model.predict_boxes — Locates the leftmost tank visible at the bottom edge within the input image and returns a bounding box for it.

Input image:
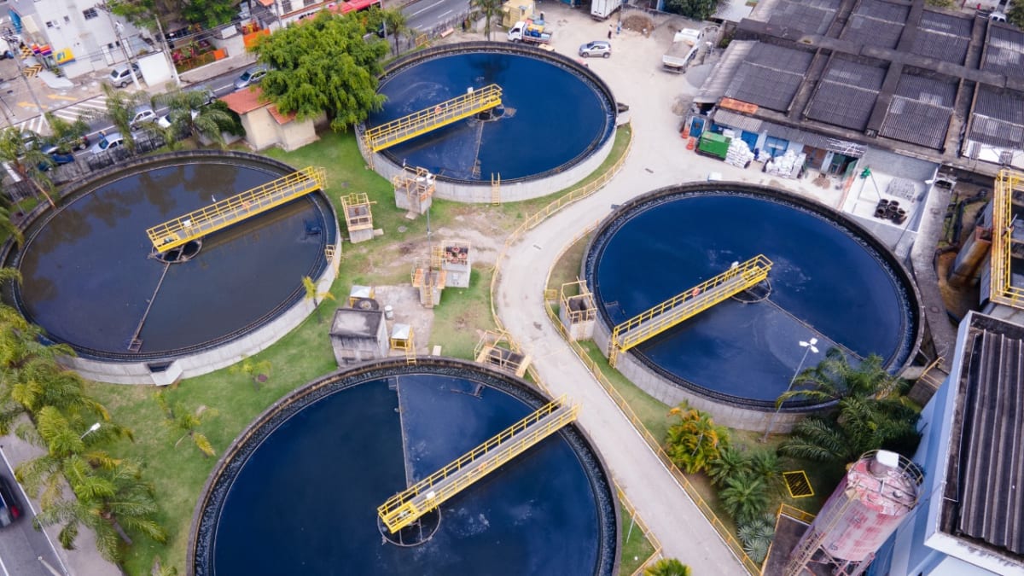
[185,358,625,576]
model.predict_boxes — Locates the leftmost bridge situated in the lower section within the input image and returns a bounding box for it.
[380,391,580,537]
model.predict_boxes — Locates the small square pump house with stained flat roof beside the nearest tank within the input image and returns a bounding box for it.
[328,309,389,368]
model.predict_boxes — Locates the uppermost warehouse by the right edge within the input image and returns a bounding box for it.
[693,0,1024,214]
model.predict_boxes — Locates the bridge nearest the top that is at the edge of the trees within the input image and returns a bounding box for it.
[361,85,502,173]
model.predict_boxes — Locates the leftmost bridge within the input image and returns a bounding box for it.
[147,166,327,252]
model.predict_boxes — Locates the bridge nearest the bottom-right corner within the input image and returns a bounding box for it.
[607,255,775,373]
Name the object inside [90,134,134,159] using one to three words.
car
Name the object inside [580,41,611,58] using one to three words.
car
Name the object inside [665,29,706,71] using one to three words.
truck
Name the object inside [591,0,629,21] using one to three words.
truck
